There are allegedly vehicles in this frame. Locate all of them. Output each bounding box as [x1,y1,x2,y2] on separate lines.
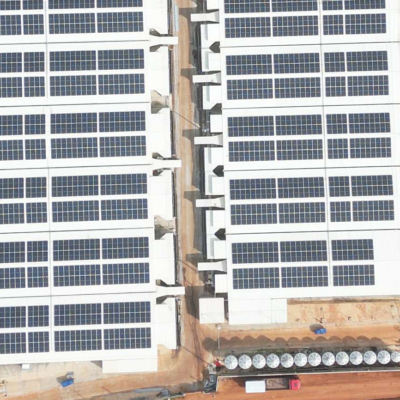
[61,378,77,388]
[247,380,303,395]
[315,327,329,336]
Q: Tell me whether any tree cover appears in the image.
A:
No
